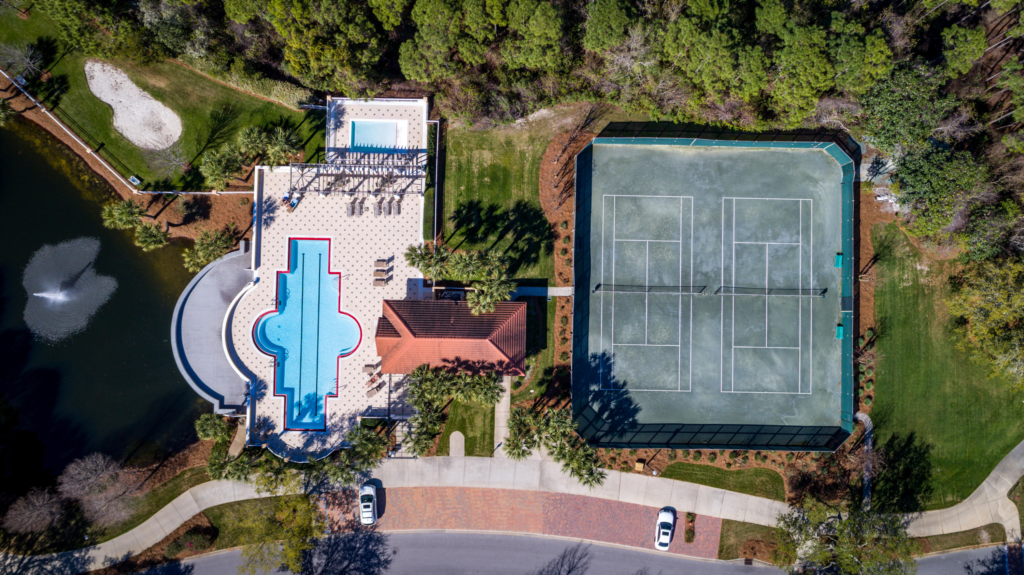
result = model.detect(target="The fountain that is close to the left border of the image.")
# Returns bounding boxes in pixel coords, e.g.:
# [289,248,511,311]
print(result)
[20,235,126,351]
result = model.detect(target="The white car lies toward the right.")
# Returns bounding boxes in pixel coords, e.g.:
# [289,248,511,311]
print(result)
[654,508,675,552]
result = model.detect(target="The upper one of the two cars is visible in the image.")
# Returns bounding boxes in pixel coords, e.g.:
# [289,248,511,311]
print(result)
[358,484,378,527]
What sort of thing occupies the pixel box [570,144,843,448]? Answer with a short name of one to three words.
tennis court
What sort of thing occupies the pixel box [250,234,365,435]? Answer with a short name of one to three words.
swimming pool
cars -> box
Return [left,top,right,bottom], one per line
[654,508,675,552]
[358,484,378,527]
